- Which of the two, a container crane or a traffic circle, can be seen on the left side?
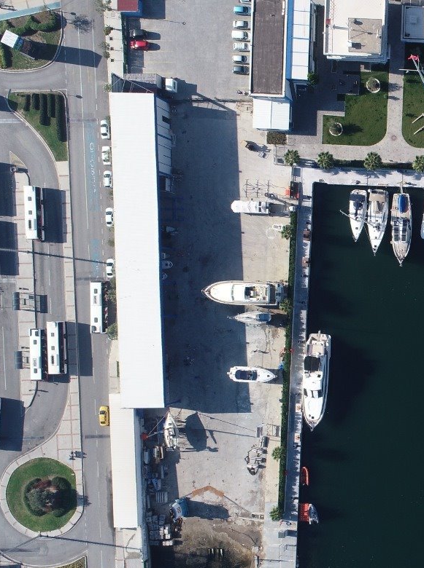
traffic circle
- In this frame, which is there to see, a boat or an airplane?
boat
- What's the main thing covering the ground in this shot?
paved ground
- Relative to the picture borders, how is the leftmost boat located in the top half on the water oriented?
vertically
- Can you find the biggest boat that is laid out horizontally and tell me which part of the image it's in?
center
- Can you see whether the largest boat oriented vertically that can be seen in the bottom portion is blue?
No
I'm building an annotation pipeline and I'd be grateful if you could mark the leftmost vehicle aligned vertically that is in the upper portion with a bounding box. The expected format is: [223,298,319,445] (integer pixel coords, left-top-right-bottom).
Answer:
[26,187,46,240]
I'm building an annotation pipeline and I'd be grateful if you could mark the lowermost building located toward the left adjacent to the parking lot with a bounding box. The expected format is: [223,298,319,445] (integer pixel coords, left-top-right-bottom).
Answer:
[109,92,177,409]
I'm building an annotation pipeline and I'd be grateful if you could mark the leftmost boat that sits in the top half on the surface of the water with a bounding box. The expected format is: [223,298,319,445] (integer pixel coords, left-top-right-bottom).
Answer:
[339,187,367,241]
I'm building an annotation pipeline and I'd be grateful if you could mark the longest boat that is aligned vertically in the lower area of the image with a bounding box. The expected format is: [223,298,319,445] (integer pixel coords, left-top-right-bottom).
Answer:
[300,326,332,430]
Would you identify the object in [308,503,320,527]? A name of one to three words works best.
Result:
boat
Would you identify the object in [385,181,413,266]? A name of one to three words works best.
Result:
boat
